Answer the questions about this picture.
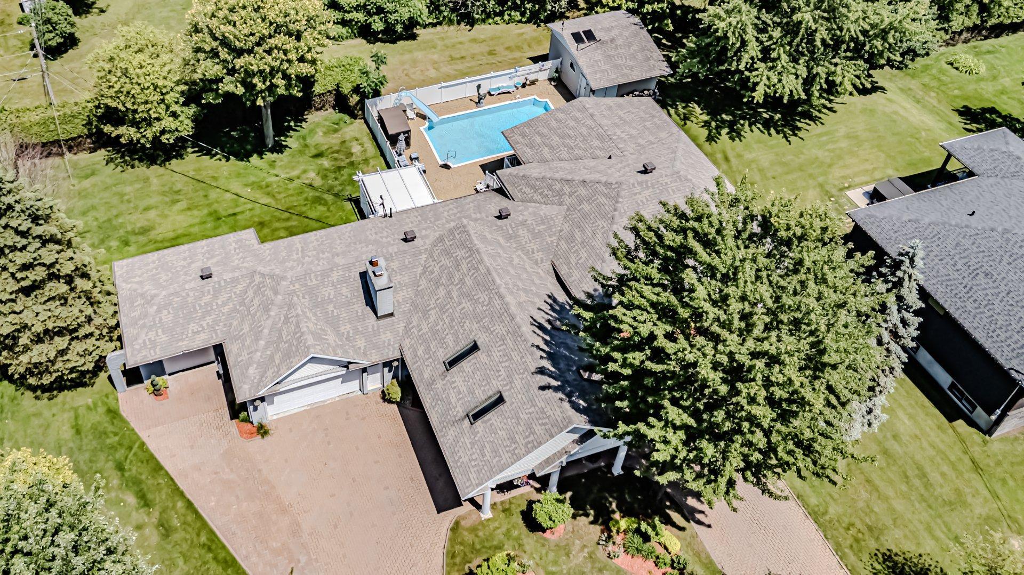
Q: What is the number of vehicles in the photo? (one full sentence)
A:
The count of vehicles is 0.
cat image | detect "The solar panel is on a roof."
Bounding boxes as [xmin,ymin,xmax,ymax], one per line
[577,29,612,60]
